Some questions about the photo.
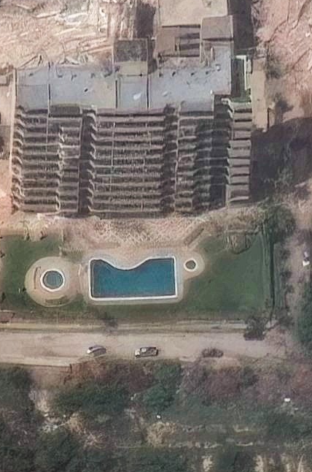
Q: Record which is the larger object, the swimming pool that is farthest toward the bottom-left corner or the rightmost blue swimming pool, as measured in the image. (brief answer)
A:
the rightmost blue swimming pool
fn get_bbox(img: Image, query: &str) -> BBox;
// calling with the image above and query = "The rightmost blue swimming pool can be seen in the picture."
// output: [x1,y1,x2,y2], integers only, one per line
[87,256,178,300]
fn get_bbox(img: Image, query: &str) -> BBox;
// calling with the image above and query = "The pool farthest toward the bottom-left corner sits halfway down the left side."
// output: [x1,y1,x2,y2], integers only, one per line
[39,265,67,292]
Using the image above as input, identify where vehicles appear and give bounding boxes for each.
[86,344,107,355]
[136,345,158,357]
[245,329,266,339]
[201,347,222,358]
